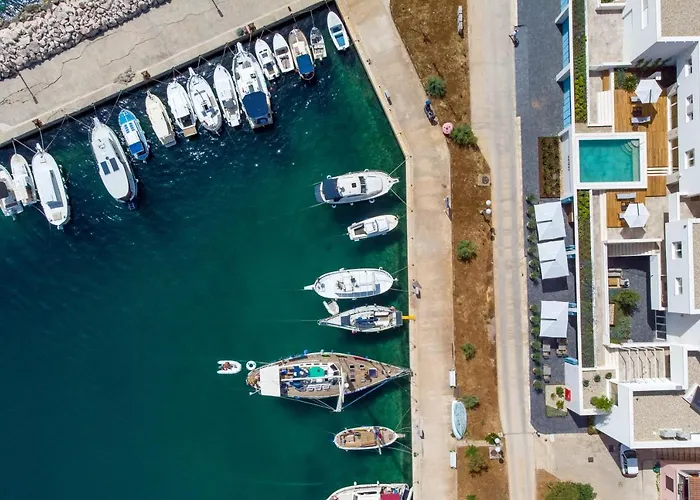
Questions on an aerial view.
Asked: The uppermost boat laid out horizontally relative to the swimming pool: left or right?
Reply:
on its left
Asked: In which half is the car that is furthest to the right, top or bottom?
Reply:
bottom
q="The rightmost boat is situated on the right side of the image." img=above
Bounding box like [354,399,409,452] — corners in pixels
[453,402,469,443]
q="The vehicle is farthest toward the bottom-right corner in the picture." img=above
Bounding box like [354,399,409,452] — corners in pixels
[617,445,637,479]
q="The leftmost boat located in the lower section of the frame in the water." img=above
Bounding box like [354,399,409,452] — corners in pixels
[217,360,243,374]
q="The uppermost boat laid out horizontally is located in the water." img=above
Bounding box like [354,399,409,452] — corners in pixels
[313,168,401,207]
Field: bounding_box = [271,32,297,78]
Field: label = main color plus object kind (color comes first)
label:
white boat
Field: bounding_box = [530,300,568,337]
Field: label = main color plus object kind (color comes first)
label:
white umbrella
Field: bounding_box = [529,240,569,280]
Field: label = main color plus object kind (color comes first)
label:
white umbrella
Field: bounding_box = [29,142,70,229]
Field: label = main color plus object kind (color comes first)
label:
white boat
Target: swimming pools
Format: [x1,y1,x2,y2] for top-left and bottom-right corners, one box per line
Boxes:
[561,133,648,200]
